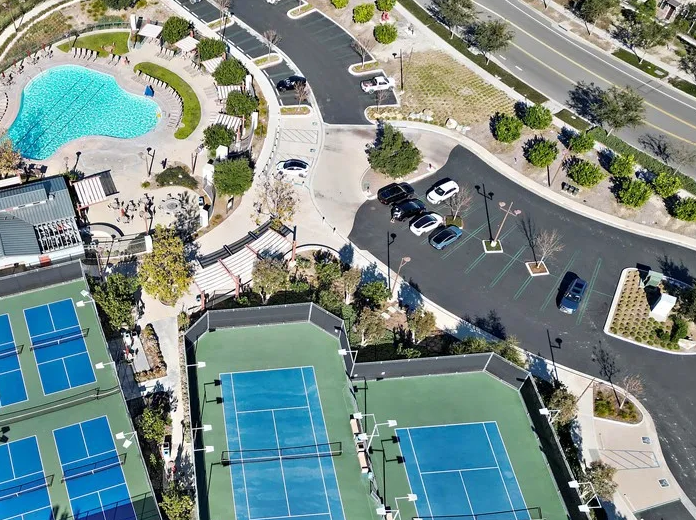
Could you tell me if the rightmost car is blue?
Yes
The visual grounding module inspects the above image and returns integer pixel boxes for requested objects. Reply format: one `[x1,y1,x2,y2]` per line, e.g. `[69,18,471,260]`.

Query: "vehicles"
[393,198,428,220]
[379,182,415,205]
[429,225,464,247]
[362,74,397,92]
[561,278,590,311]
[428,179,459,202]
[277,161,311,177]
[410,213,445,233]
[277,75,308,92]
